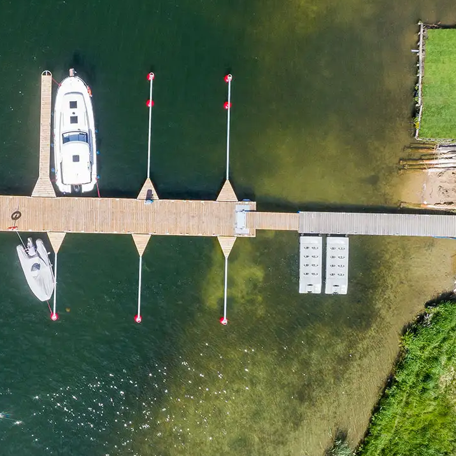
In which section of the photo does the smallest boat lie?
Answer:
left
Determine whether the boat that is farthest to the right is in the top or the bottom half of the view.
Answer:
top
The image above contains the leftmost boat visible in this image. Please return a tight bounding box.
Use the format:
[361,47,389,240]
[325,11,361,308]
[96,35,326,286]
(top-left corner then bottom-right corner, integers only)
[17,233,54,315]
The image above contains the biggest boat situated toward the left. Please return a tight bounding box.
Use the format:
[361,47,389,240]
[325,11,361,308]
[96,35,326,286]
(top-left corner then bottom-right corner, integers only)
[49,68,100,199]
